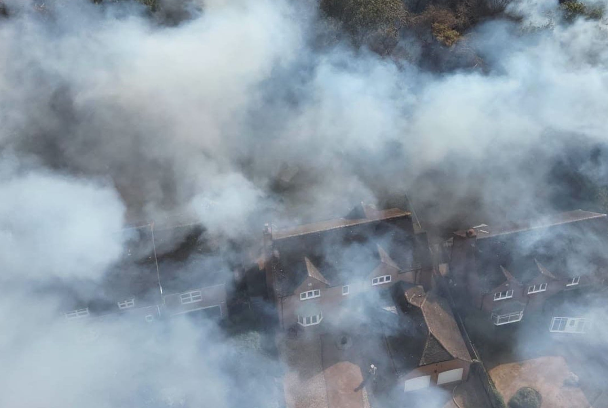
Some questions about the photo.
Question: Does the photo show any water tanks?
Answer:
No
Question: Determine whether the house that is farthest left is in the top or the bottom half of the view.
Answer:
bottom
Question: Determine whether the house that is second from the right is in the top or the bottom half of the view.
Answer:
bottom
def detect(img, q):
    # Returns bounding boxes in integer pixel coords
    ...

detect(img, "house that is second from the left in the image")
[149,204,253,332]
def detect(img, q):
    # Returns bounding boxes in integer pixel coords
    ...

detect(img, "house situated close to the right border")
[448,208,608,361]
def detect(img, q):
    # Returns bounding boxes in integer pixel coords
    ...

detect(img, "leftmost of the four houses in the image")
[38,202,168,351]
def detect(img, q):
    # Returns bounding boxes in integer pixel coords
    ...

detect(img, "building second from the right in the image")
[259,180,475,393]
